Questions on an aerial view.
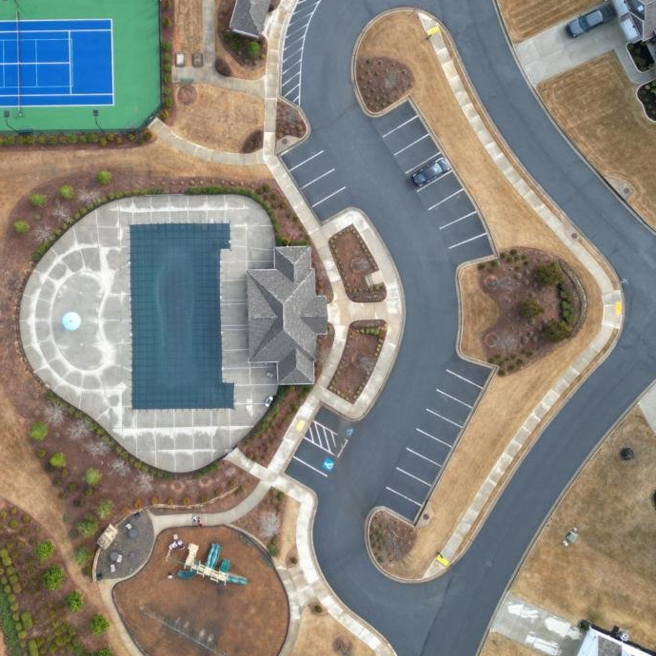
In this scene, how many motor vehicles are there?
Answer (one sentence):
In total, there are 2 motor vehicles in the scene.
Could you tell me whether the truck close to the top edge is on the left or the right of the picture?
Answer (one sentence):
You can find the truck close to the top edge on the right side of the picture.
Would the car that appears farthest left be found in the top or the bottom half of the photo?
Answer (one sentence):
The top half of the photo is where the car that appears farthest left is.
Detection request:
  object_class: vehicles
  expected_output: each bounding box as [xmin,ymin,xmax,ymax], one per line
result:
[411,157,450,189]
[561,3,616,41]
